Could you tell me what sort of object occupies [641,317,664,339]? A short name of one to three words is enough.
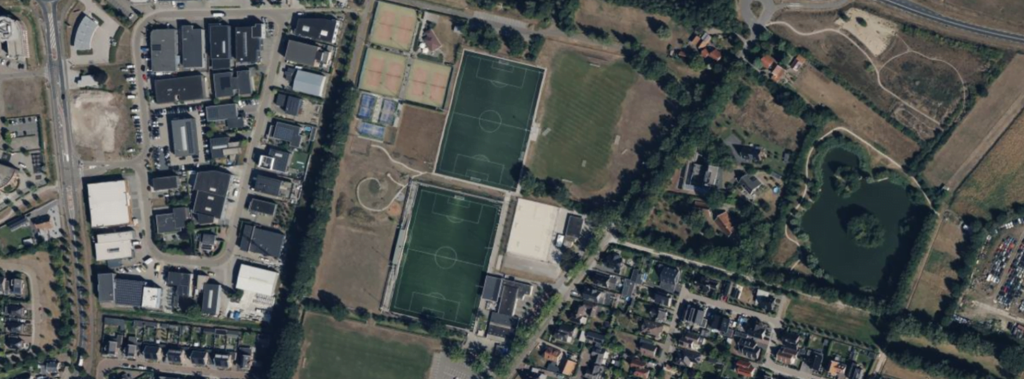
house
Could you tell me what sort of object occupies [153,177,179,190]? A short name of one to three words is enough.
building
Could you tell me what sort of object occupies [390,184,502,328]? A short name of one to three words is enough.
soccer field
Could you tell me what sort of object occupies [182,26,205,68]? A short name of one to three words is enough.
building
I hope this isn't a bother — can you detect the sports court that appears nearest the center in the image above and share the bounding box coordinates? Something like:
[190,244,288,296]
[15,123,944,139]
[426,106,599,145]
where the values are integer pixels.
[500,199,568,283]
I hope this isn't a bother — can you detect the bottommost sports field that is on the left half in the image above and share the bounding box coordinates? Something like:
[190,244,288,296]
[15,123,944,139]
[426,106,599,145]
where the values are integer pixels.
[292,312,434,379]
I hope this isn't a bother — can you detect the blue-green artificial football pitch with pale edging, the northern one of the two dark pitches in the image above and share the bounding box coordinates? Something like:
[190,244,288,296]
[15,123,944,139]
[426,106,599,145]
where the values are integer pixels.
[437,52,540,190]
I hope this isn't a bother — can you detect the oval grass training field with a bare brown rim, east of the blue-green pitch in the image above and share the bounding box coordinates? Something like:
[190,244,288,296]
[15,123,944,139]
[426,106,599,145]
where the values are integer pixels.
[522,49,668,200]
